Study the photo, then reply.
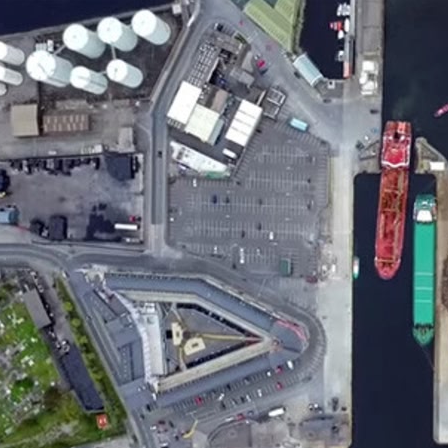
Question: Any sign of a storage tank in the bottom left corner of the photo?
No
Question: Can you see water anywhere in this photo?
Yes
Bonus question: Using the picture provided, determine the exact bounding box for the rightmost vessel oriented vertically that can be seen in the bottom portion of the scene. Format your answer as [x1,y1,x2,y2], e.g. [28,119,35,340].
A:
[413,194,437,347]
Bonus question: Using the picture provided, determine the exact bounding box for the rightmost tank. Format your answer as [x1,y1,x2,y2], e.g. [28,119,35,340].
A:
[131,8,171,45]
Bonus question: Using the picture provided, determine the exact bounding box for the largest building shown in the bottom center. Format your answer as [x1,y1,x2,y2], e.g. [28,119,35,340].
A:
[106,273,312,411]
